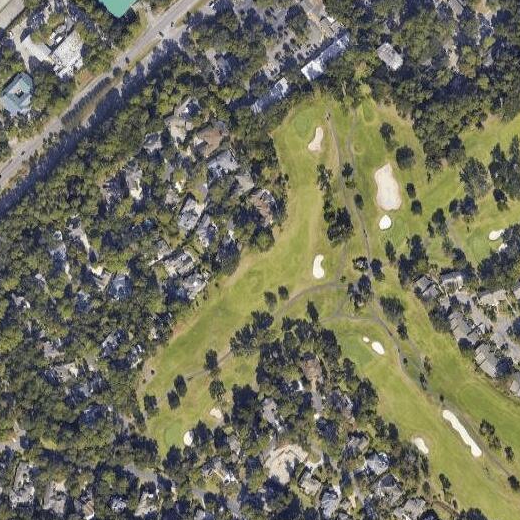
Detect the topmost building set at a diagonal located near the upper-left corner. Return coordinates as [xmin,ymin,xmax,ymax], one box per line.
[0,0,26,31]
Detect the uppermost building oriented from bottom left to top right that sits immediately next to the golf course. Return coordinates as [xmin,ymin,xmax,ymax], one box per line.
[302,34,352,80]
